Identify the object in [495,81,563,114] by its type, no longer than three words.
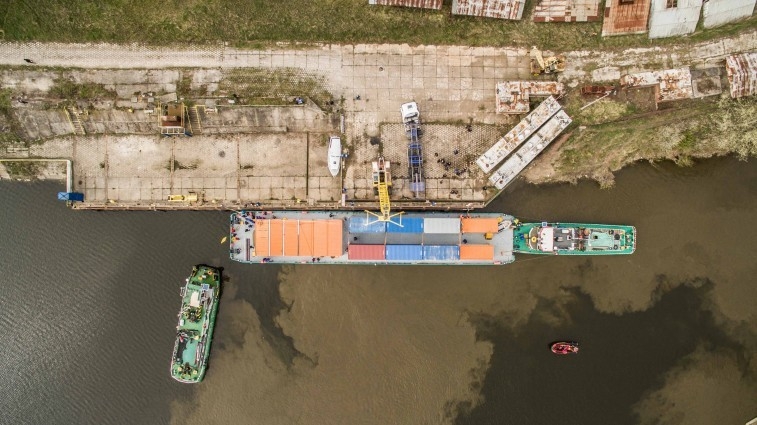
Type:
shed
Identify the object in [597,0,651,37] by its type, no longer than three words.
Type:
shed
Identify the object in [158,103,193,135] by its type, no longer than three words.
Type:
house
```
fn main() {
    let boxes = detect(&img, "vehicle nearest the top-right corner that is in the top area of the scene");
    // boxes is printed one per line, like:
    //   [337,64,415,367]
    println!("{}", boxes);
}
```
[529,47,564,77]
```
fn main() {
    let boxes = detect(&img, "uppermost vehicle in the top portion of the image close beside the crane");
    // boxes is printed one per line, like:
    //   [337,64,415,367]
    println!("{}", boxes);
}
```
[401,100,422,149]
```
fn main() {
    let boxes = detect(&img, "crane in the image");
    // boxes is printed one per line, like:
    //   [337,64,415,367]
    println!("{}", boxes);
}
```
[367,157,396,220]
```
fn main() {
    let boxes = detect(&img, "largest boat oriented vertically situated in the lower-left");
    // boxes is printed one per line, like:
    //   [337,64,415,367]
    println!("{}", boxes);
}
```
[170,262,223,387]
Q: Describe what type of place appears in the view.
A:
port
